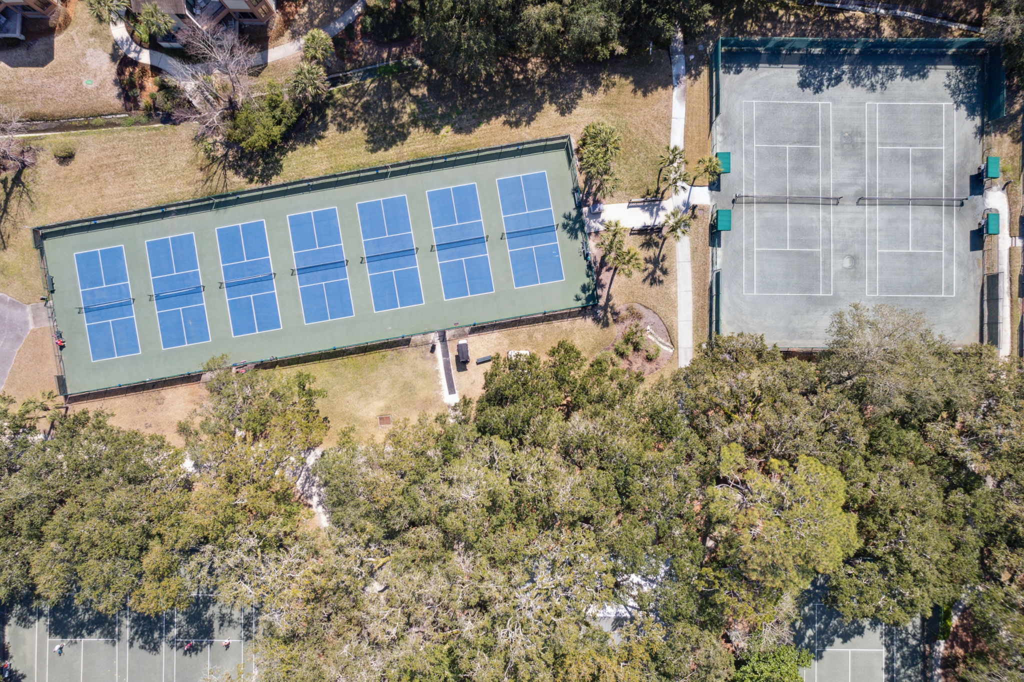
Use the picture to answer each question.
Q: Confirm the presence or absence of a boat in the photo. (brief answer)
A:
No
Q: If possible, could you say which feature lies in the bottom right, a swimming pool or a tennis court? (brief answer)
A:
tennis court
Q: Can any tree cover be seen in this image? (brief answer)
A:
Yes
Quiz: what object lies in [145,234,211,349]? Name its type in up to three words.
sports court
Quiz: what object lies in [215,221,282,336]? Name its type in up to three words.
sports court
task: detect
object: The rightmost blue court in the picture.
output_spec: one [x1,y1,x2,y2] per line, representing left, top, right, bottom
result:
[498,172,564,287]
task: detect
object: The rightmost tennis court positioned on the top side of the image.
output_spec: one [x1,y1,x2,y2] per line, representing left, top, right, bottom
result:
[849,53,984,347]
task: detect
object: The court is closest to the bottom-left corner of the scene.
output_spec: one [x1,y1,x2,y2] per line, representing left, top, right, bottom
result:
[5,547,147,682]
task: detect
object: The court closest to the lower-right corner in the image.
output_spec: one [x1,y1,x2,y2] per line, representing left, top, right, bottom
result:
[794,564,923,682]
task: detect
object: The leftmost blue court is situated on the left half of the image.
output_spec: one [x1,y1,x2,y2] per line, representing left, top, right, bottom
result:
[74,246,141,361]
